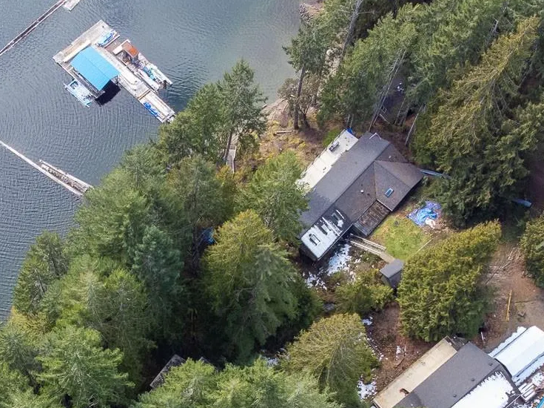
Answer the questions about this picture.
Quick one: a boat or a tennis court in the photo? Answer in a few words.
boat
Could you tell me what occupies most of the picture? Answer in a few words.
trees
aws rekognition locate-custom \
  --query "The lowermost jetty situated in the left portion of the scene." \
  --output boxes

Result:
[140,88,177,124]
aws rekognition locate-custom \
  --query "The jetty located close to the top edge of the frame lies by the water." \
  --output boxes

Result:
[52,20,150,99]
